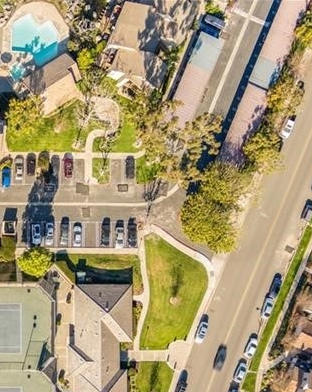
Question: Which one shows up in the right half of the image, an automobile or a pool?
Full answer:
There is an automobile in the right half of the image.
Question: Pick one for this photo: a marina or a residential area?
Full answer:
The area seen from above is a residential area.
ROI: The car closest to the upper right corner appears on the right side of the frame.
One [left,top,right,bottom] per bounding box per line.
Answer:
[203,12,229,28]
